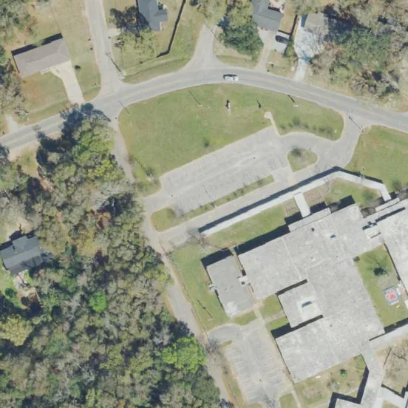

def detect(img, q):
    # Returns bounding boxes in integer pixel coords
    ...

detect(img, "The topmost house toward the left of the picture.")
[138,0,166,30]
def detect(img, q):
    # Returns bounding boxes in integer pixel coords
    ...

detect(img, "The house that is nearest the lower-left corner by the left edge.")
[0,236,44,275]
